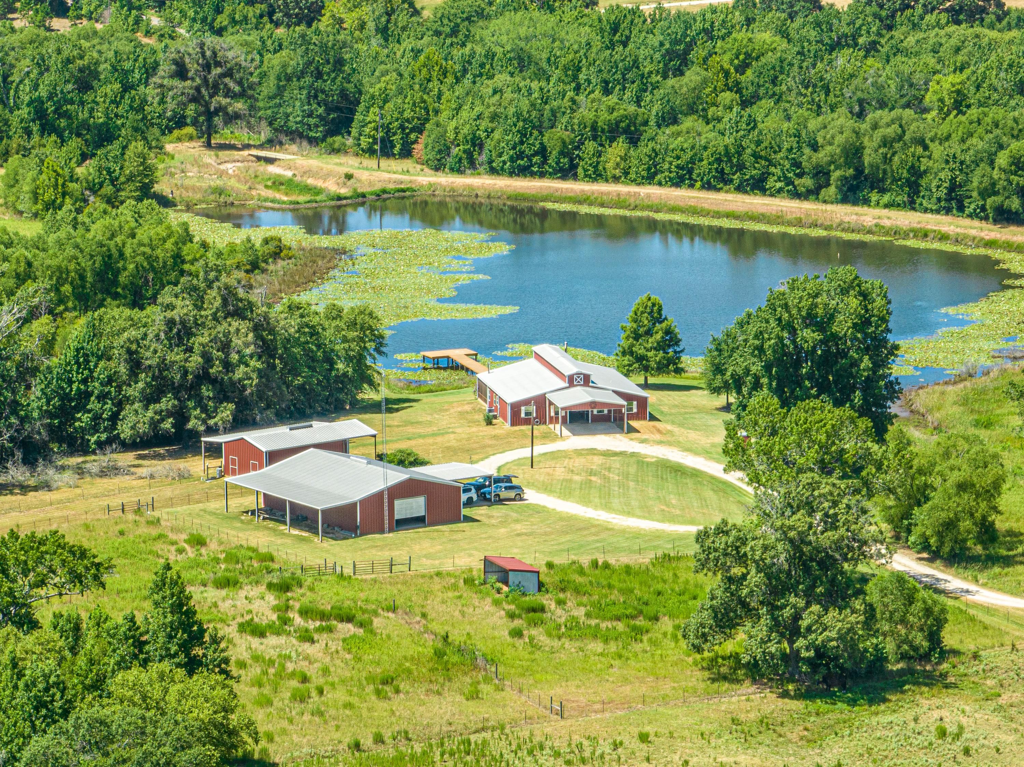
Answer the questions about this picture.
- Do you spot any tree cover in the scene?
Yes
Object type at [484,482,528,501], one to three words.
car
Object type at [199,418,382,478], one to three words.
shed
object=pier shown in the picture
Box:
[420,349,486,381]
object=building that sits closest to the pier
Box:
[475,337,651,436]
